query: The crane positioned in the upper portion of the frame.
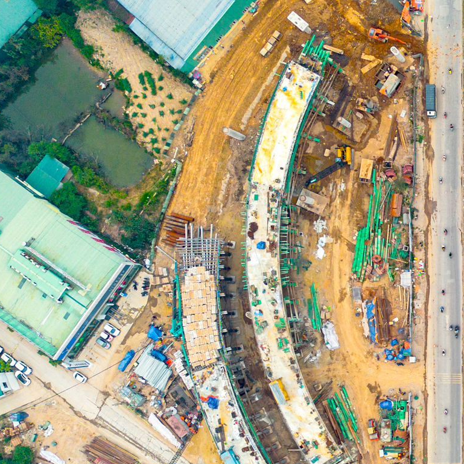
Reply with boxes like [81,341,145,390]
[304,144,360,187]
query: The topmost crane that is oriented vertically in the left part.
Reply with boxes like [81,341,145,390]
[170,273,187,352]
